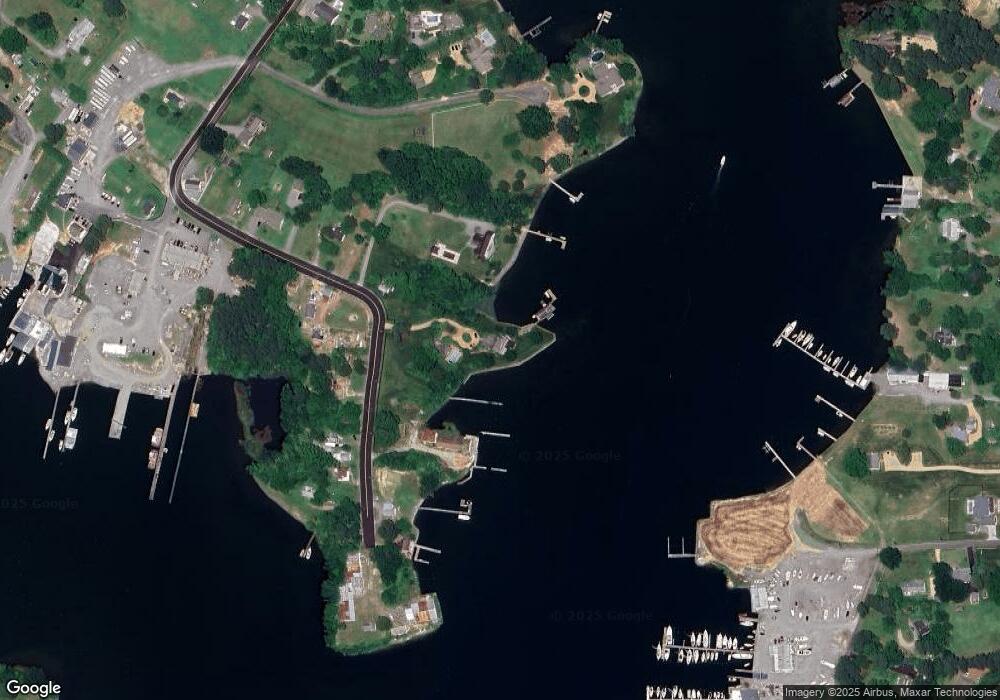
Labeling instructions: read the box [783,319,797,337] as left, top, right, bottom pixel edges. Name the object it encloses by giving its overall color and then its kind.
white boat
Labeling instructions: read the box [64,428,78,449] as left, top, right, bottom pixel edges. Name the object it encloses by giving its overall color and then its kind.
white boat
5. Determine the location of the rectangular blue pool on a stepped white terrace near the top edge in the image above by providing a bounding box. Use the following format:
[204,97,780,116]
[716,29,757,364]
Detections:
[421,11,442,27]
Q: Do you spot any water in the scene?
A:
Yes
